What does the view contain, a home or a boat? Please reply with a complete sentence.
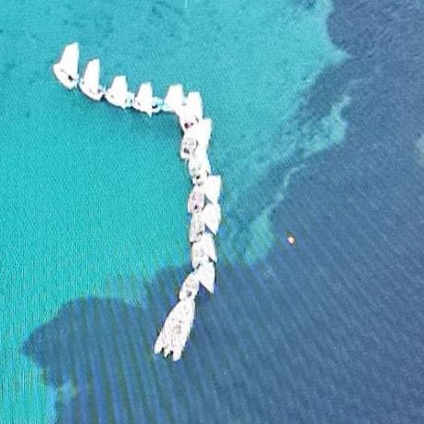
The one in the frame is a boat.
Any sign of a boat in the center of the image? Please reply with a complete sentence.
Yes, a boat appears in the center of the image.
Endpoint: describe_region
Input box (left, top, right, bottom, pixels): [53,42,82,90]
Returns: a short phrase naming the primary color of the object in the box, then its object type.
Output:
white boat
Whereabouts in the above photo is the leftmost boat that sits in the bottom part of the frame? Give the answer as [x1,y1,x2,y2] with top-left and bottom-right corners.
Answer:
[150,299,197,369]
